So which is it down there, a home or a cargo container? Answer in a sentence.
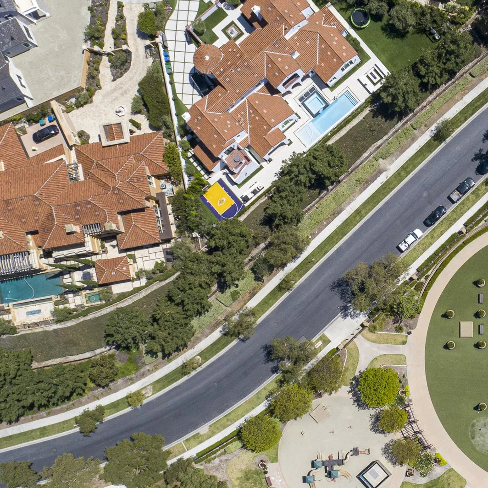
Visible in the photo is a home.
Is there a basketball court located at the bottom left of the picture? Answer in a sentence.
No, there's no basketball court to be seen at the bottom left of the picture.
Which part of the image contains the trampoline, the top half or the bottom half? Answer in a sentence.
You can find the trampoline in the top half.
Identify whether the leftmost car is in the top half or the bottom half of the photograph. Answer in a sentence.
You can find the leftmost car in the top half.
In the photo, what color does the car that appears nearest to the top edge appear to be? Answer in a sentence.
The color of the car that appears nearest to the top edge is black.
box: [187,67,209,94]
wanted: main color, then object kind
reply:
black car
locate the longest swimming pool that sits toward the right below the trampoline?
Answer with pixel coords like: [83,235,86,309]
[300,91,359,148]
